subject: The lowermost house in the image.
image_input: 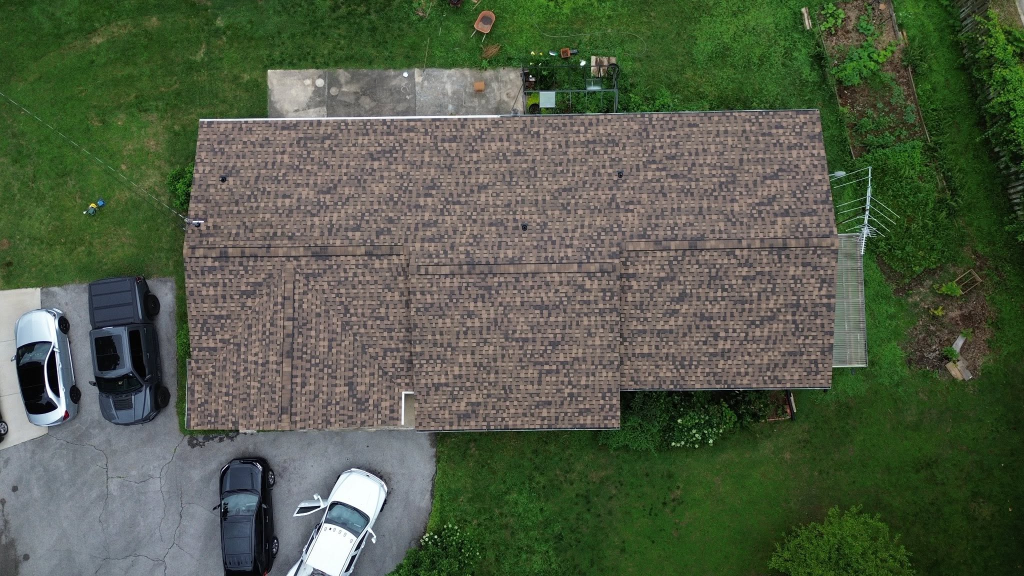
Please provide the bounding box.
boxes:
[170,107,838,433]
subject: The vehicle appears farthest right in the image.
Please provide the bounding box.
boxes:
[289,466,392,576]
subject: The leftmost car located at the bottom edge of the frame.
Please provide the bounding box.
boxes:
[208,456,278,576]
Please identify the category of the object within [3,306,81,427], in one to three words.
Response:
car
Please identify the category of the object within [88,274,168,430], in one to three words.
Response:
truck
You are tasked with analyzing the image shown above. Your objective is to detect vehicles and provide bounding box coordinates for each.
[208,456,278,576]
[88,274,168,430]
[289,466,392,576]
[0,420,7,455]
[3,306,81,427]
